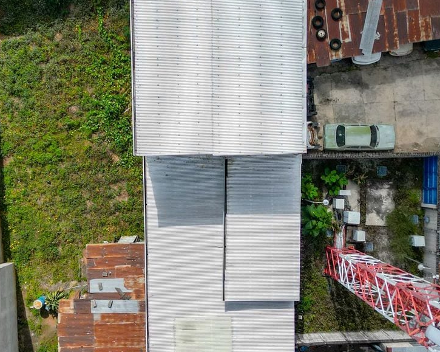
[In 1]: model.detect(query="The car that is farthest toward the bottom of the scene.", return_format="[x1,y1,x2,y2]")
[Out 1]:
[323,121,394,152]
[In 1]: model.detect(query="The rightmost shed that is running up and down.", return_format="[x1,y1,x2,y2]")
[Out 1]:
[415,156,438,208]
